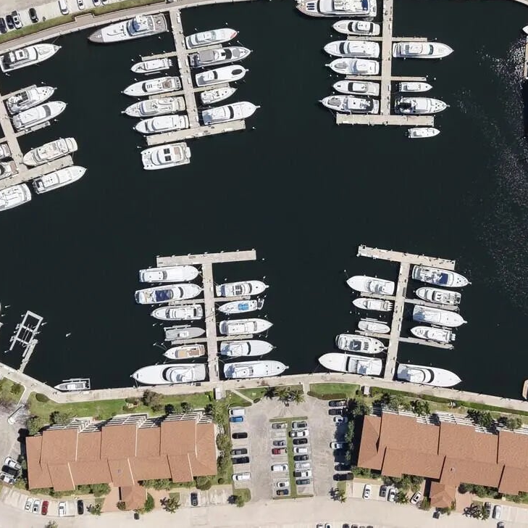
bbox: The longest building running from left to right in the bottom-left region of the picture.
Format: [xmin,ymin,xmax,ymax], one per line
[25,409,223,500]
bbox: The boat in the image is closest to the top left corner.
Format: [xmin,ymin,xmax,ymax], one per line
[0,44,61,73]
